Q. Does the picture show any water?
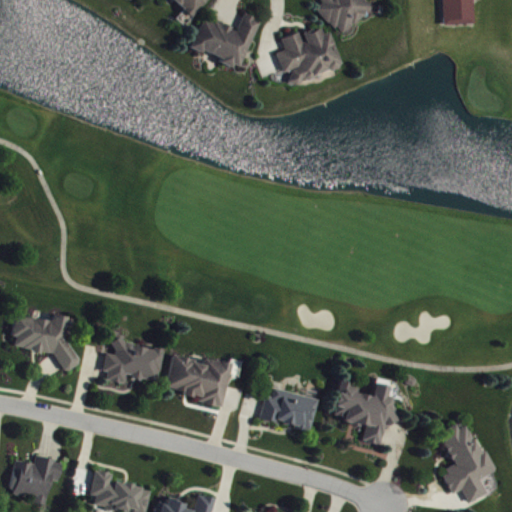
Yes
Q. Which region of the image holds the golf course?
center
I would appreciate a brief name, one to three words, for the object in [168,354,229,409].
house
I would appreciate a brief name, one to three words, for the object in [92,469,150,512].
house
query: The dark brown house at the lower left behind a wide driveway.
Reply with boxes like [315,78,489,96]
[8,456,64,506]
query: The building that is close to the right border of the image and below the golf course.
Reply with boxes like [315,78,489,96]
[442,418,496,501]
